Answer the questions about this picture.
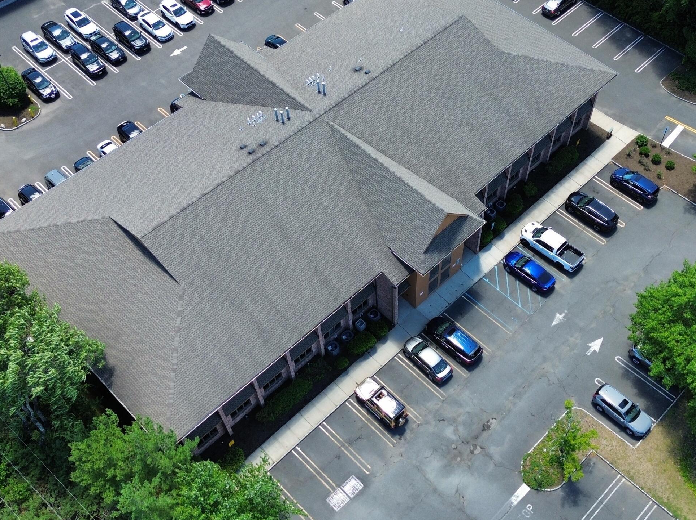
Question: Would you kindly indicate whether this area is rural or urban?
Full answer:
The area is urban.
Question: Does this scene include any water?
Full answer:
No, there's no water in this view.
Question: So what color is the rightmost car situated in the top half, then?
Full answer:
From above, the rightmost car situated in the top half appears blue.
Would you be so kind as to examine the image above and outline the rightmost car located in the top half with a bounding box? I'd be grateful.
[606,164,659,203]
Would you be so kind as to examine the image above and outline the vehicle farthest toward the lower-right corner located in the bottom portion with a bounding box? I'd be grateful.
[589,386,651,441]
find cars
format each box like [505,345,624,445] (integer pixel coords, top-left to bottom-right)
[155,0,194,29]
[114,120,140,141]
[422,316,483,370]
[67,42,106,77]
[135,11,173,41]
[111,17,150,52]
[180,0,213,15]
[22,70,59,103]
[18,30,56,63]
[13,183,39,204]
[39,21,76,52]
[503,252,557,296]
[69,157,89,172]
[93,138,116,156]
[401,337,456,388]
[542,0,576,16]
[60,5,99,39]
[263,35,285,49]
[168,103,178,112]
[106,0,141,19]
[565,192,620,236]
[0,199,12,217]
[627,337,662,378]
[606,164,659,203]
[589,386,651,441]
[40,167,65,188]
[89,32,128,63]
